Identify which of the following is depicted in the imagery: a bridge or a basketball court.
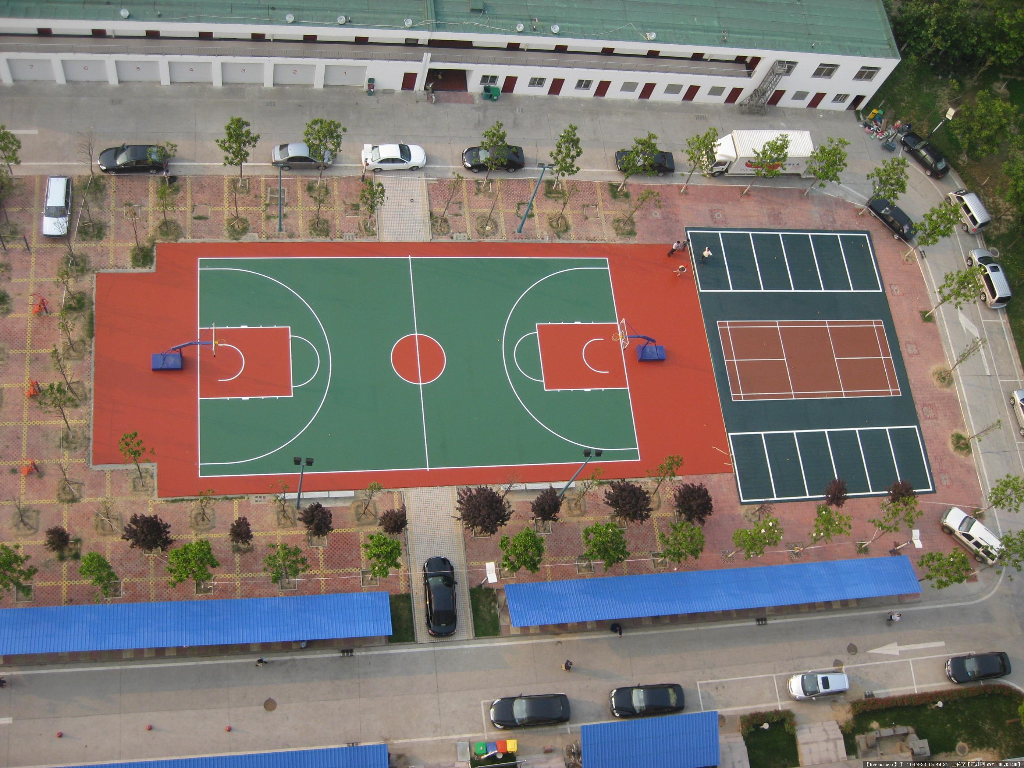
basketball court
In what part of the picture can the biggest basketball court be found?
center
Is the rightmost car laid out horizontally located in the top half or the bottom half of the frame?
bottom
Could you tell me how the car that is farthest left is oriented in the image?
vertically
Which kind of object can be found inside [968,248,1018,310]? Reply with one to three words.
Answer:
car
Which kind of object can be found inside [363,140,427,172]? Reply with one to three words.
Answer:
car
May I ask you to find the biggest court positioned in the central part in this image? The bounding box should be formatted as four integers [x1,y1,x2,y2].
[88,239,734,500]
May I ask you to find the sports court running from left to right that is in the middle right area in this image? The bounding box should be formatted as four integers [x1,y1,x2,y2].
[718,319,902,401]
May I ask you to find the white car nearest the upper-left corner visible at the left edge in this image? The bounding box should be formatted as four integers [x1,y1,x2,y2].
[40,173,75,240]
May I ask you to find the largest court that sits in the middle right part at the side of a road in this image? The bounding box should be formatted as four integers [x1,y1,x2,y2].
[684,226,936,504]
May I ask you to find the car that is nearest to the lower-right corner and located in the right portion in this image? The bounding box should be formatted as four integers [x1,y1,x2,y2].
[943,650,1017,685]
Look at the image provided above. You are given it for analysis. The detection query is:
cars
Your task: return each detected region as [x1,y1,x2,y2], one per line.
[95,140,171,175]
[270,142,335,170]
[898,126,955,180]
[486,692,571,731]
[864,193,921,245]
[1010,389,1024,440]
[946,184,995,237]
[422,556,460,640]
[943,650,1017,685]
[614,149,677,177]
[363,140,427,172]
[606,682,688,719]
[40,173,75,240]
[941,503,1015,570]
[968,248,1018,310]
[785,668,855,703]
